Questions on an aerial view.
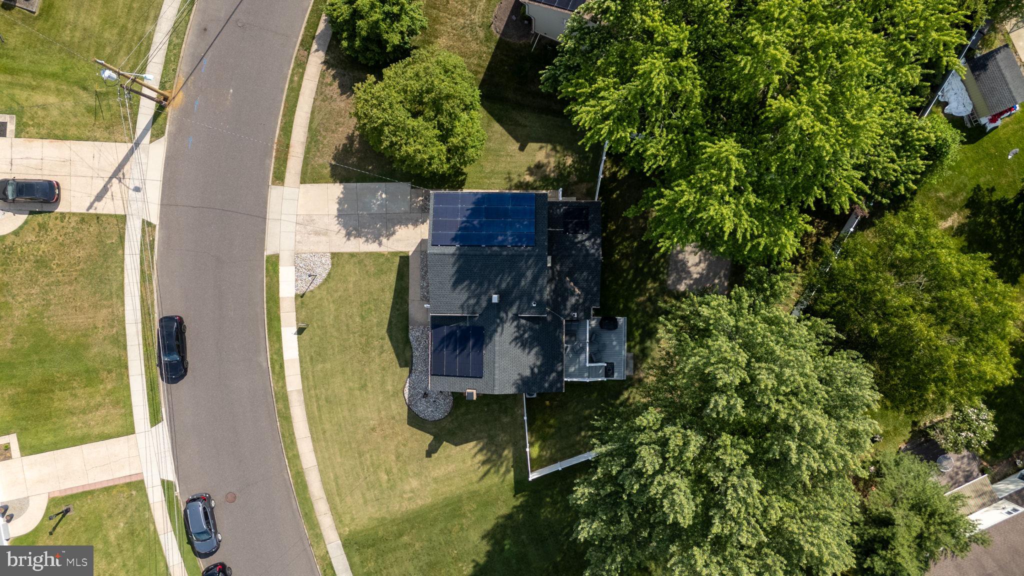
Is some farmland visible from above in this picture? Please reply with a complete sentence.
No, the scene doesn't show any farmland.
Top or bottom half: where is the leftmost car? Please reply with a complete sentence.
The leftmost car is in the top half of the image.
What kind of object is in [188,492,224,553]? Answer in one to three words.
car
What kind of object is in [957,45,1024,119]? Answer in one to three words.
shed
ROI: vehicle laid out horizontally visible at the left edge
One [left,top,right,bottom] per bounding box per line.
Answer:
[0,175,65,205]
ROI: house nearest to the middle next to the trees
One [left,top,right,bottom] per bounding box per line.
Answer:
[425,189,604,399]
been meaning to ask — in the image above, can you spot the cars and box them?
[206,558,236,576]
[0,175,65,205]
[188,492,224,553]
[156,316,191,381]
